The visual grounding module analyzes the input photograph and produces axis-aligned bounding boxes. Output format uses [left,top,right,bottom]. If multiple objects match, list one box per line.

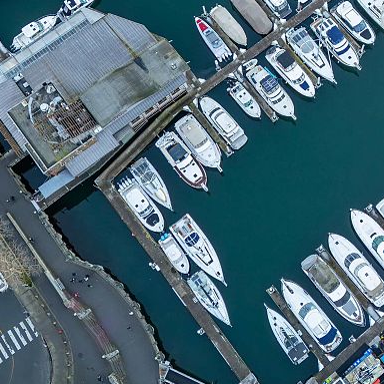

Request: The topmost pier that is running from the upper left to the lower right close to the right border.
[322,5,368,58]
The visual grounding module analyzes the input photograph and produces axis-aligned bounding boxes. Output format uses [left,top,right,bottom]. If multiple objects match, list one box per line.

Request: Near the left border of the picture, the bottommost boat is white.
[12,12,57,48]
